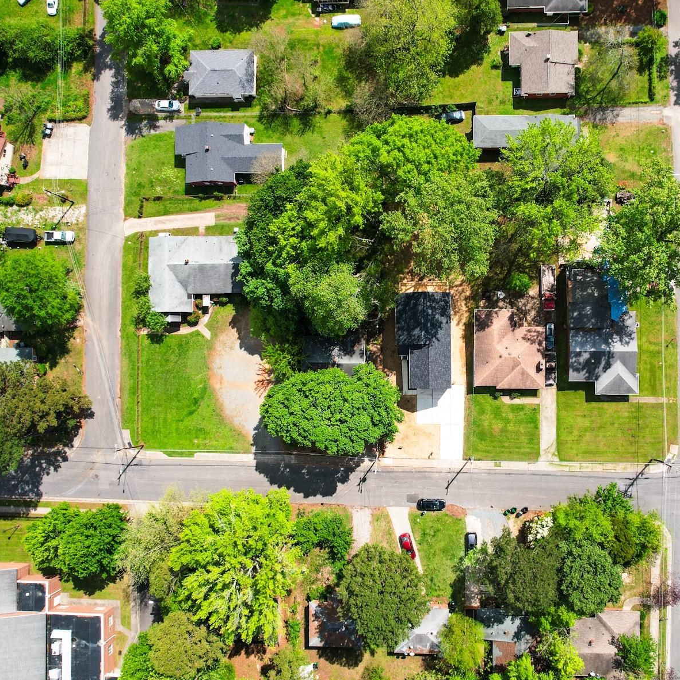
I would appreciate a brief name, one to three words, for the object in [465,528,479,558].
vehicle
